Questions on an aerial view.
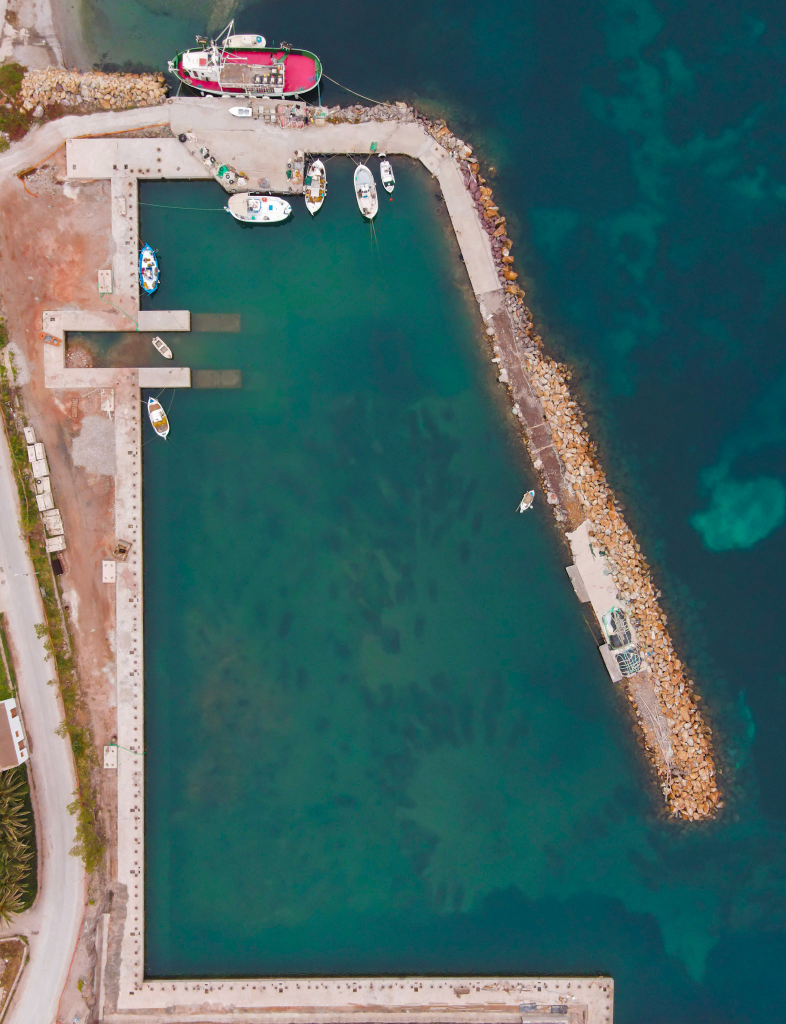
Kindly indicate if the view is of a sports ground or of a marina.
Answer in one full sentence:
The picture captures a marina.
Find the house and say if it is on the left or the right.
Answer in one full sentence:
The house is on the left side of the image.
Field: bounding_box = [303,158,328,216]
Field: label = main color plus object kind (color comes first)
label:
white boat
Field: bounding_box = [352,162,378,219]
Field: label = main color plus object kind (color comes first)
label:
white boat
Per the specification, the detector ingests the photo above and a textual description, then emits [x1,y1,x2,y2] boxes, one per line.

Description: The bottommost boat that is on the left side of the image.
[148,396,168,440]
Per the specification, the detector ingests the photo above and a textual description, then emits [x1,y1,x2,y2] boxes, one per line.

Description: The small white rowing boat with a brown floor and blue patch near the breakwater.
[516,490,535,513]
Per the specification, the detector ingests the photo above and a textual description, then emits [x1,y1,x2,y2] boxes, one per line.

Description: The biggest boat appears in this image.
[168,20,323,101]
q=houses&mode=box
[0,697,32,772]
